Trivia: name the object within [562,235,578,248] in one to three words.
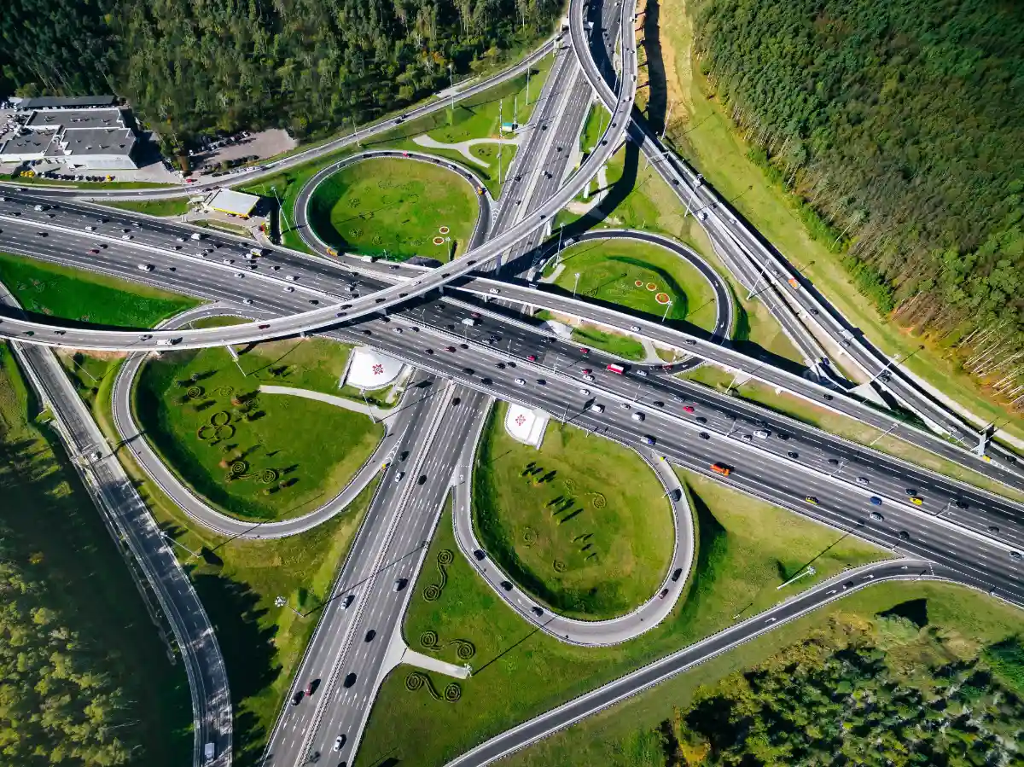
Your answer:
vehicle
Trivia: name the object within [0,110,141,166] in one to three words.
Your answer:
building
